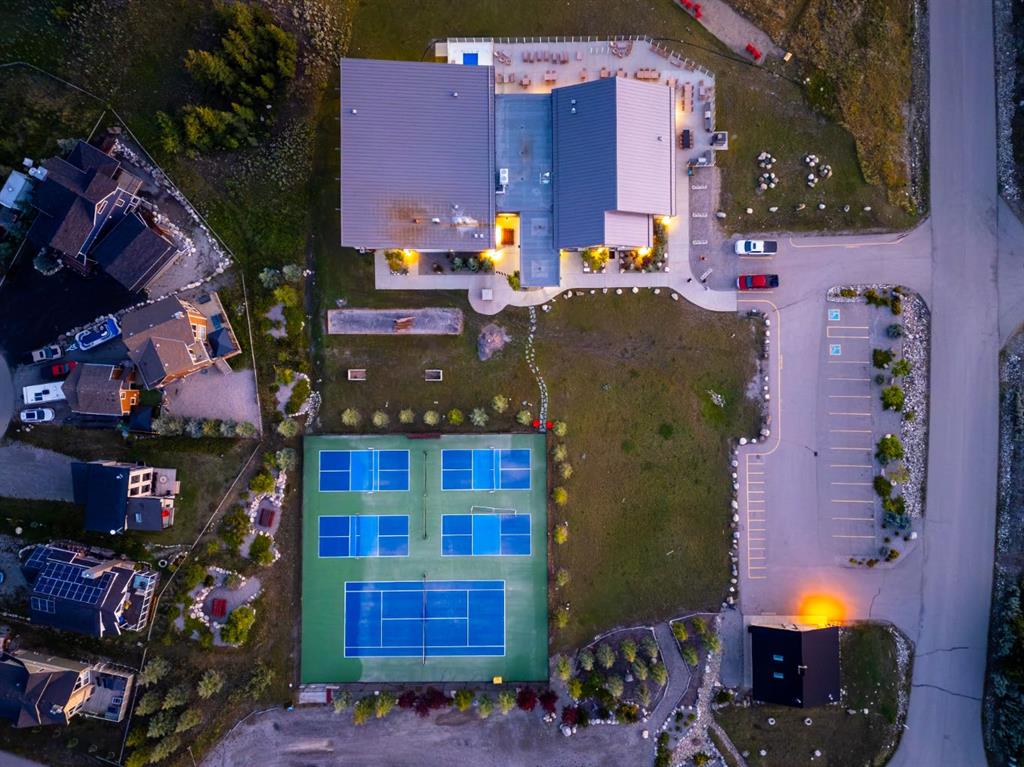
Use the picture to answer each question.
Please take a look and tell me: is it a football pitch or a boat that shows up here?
boat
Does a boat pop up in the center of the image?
No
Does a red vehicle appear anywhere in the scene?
Yes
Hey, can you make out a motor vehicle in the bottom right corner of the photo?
No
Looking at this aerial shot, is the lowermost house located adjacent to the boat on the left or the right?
left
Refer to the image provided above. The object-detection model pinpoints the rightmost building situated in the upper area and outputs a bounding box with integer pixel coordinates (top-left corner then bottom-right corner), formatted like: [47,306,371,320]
[338,57,674,288]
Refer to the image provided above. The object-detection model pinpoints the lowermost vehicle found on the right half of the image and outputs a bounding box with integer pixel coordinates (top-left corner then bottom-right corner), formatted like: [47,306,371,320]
[736,274,778,290]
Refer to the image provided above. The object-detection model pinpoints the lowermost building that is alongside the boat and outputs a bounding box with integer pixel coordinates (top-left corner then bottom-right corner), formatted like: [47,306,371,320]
[62,364,141,416]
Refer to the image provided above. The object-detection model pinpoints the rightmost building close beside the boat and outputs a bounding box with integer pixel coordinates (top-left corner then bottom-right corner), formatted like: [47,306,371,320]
[122,291,242,389]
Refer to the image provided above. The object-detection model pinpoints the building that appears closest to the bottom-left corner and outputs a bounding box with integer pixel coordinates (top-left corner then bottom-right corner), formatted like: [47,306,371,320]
[0,643,137,730]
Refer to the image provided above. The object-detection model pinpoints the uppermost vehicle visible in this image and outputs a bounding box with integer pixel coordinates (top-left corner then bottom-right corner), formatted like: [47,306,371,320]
[734,239,776,256]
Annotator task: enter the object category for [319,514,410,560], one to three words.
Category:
sports court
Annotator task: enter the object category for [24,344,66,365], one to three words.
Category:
truck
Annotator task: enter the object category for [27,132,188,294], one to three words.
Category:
house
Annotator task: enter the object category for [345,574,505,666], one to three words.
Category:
tennis court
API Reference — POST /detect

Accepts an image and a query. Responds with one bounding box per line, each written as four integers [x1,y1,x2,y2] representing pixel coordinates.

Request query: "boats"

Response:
[74,317,122,349]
